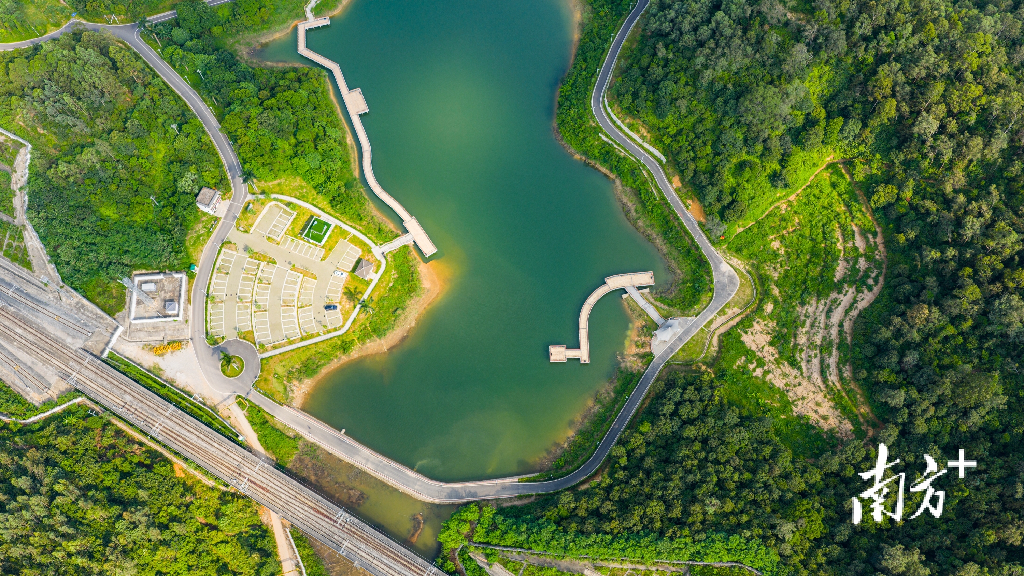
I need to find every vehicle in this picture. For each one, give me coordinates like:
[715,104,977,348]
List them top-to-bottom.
[334,270,346,277]
[324,304,337,310]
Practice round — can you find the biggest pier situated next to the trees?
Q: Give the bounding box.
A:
[297,15,438,260]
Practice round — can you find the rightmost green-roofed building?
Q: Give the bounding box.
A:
[303,216,334,249]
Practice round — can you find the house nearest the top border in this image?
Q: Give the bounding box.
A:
[196,187,225,215]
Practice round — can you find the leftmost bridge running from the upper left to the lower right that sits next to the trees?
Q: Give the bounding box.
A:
[64,344,448,576]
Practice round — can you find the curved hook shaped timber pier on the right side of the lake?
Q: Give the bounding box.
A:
[549,270,655,365]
